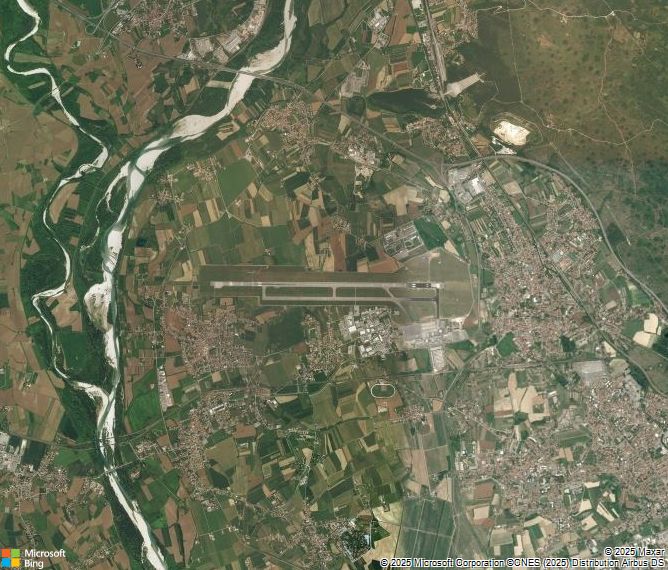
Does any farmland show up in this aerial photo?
Yes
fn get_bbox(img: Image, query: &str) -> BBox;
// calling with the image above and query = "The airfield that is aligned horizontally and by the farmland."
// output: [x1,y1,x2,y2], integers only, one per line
[200,247,474,348]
